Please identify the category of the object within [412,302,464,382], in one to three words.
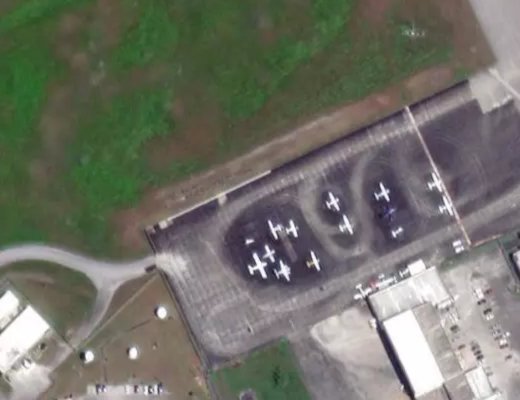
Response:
building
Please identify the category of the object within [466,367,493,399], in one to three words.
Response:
building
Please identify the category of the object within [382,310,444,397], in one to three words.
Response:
hangar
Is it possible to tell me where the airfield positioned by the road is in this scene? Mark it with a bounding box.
[147,0,520,400]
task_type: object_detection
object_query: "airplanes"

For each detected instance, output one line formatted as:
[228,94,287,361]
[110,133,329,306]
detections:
[247,252,267,278]
[324,192,339,211]
[268,220,283,238]
[427,173,442,191]
[273,260,291,280]
[437,195,452,215]
[377,273,394,286]
[284,219,298,237]
[261,244,274,262]
[337,214,353,234]
[375,182,389,201]
[354,283,371,297]
[305,250,320,270]
[379,203,393,219]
